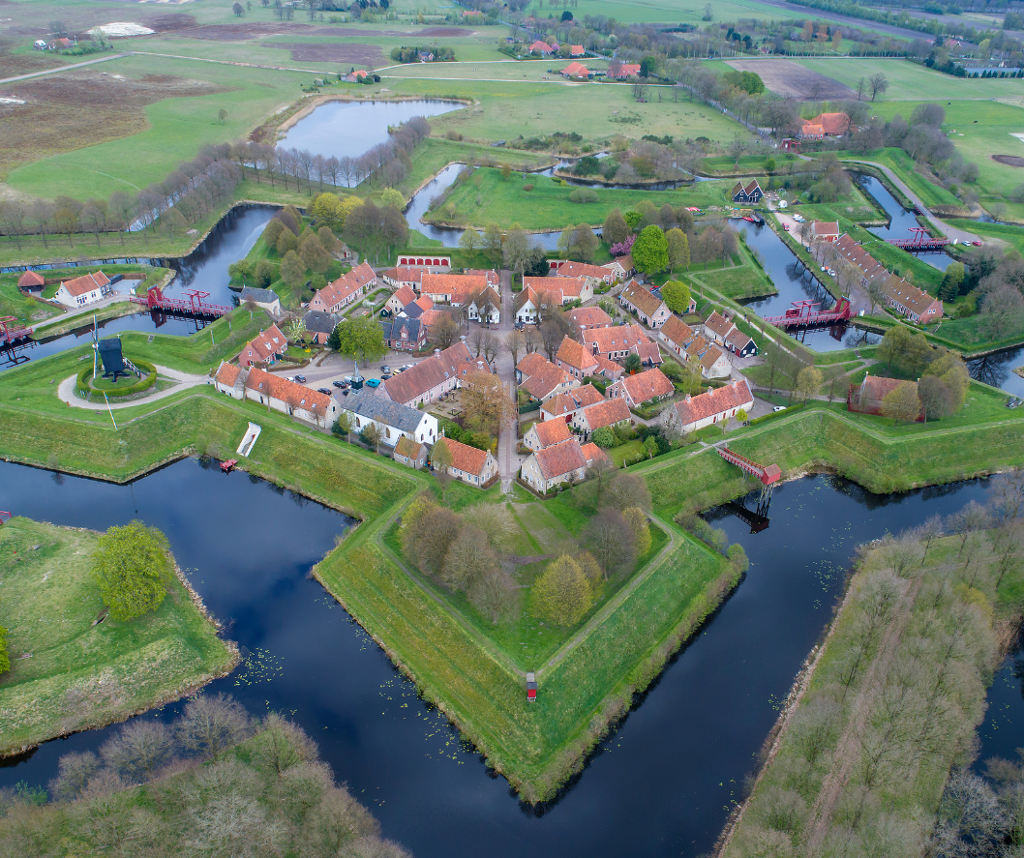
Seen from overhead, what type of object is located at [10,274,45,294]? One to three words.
building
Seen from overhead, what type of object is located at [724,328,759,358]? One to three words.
house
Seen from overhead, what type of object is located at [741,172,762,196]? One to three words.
house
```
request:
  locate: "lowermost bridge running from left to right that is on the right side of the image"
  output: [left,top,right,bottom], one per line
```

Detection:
[761,297,859,328]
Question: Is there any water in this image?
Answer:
Yes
